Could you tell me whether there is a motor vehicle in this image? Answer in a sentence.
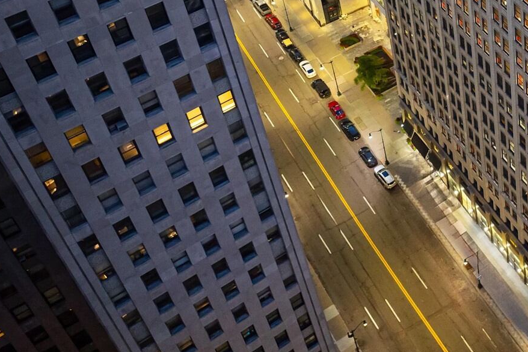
Yes, the image includes a motor vehicle.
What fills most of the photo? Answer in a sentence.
What you mostly see from above here is buildings.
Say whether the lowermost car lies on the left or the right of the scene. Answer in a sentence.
The lowermost car sits on the right side.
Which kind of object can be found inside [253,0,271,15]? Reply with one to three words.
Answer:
vehicle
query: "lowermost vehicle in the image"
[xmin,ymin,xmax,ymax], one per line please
[373,167,394,189]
